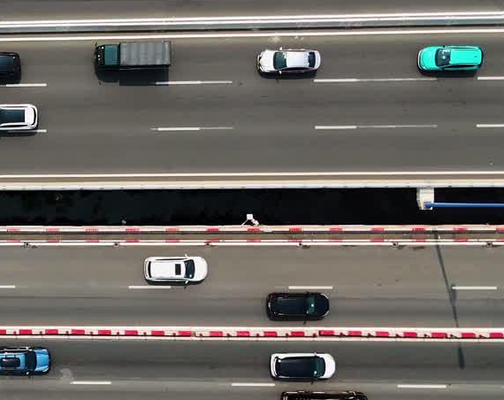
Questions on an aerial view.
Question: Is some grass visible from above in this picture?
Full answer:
No, there's no grass in this view.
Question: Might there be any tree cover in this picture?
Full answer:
No, there is no tree cover in the image.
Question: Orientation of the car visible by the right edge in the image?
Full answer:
The car visible by the right edge is laid out horizontally.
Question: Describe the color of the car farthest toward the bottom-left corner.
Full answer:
The car farthest toward the bottom-left corner is blue.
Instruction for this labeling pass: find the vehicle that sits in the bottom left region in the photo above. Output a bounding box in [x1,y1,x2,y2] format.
[0,346,50,376]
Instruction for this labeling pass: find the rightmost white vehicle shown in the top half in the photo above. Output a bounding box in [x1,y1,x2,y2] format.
[255,46,319,76]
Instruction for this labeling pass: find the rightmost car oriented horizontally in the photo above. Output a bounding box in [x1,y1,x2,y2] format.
[414,44,483,75]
